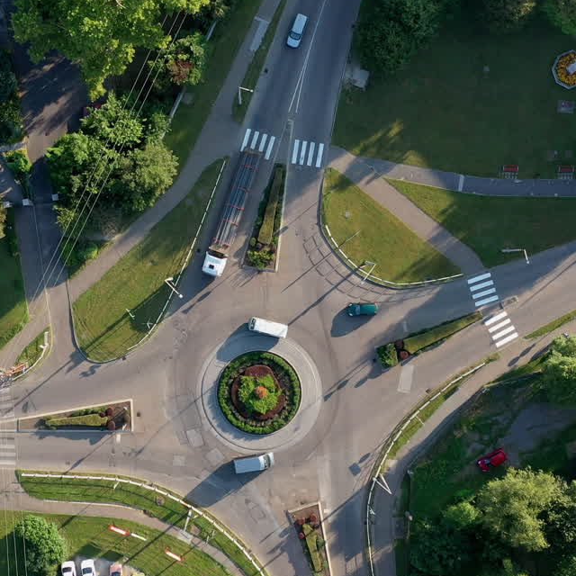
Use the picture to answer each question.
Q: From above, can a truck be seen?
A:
Yes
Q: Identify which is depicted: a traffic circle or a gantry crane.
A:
traffic circle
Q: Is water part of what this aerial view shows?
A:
No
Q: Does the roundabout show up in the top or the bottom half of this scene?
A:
bottom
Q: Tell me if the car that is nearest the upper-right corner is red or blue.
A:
blue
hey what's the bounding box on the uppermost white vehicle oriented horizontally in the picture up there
[249,315,289,339]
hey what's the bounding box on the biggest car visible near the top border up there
[286,14,308,50]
